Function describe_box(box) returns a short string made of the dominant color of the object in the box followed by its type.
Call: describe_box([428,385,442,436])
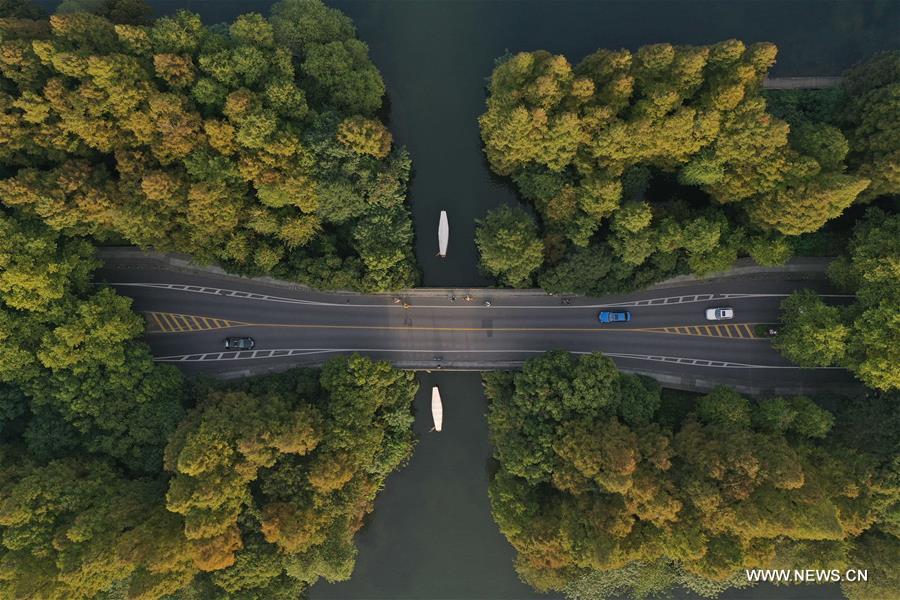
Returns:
white boat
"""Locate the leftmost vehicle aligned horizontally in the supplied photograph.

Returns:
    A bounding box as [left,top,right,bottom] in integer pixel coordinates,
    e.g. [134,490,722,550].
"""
[221,336,253,351]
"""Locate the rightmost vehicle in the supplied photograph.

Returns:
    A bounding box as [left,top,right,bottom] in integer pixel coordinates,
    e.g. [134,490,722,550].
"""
[706,307,737,322]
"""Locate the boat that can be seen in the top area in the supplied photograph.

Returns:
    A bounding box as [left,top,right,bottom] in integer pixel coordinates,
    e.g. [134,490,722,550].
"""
[433,207,448,258]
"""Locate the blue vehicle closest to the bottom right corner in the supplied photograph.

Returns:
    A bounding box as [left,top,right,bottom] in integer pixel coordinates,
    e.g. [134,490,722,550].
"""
[599,309,633,324]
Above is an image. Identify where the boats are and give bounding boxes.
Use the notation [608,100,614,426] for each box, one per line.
[428,385,442,436]
[433,207,448,258]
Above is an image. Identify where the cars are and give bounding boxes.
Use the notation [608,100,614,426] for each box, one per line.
[599,309,633,324]
[706,307,737,322]
[221,336,253,351]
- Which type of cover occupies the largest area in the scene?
trees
